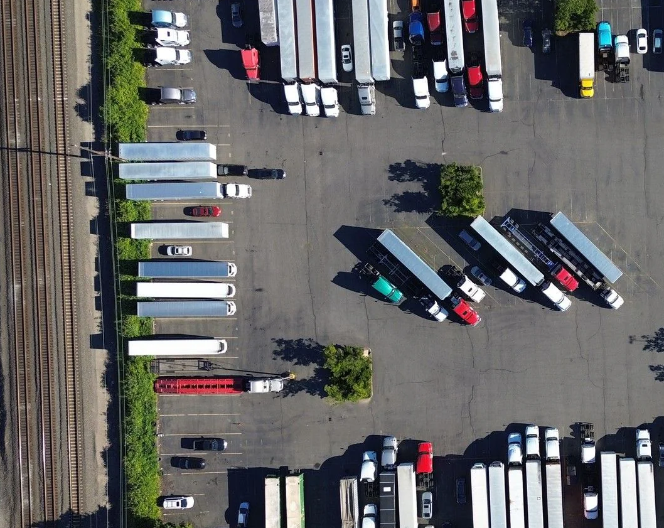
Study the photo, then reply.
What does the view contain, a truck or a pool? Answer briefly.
truck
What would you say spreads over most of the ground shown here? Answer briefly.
paved ground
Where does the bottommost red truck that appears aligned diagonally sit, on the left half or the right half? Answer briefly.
right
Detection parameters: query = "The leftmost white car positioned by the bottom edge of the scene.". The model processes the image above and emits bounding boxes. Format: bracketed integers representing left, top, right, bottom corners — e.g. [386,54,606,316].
[162,495,194,509]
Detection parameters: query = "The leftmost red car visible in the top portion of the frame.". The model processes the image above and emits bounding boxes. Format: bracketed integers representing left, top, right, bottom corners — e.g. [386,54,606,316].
[192,205,221,218]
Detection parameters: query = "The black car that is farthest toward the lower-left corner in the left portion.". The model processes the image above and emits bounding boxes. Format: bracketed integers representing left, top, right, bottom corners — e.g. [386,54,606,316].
[174,456,206,469]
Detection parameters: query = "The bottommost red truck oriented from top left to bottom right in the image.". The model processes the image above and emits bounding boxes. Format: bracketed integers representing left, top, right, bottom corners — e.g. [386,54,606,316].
[446,293,482,328]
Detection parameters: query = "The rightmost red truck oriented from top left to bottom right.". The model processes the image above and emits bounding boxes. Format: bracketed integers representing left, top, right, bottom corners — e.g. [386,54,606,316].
[539,254,578,293]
